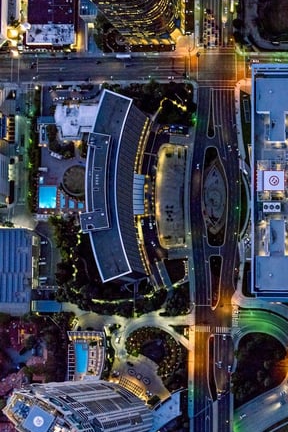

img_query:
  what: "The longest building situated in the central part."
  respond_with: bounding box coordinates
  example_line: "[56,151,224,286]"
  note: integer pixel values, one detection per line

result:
[80,89,153,287]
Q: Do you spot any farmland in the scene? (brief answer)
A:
No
